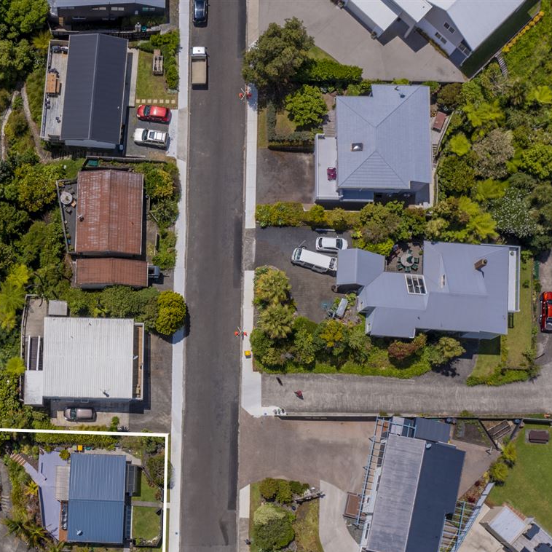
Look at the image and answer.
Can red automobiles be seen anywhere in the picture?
Yes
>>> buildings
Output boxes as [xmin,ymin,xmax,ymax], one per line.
[24,316,144,405]
[75,258,149,286]
[313,83,455,201]
[74,170,144,254]
[480,501,529,546]
[47,0,166,35]
[417,0,522,66]
[340,0,400,35]
[358,417,465,552]
[355,240,521,338]
[54,452,136,544]
[40,32,129,149]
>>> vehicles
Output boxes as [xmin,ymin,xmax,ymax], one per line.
[189,44,208,90]
[192,0,209,25]
[132,126,170,148]
[537,290,552,334]
[293,247,336,274]
[312,234,349,252]
[136,103,171,122]
[64,405,96,423]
